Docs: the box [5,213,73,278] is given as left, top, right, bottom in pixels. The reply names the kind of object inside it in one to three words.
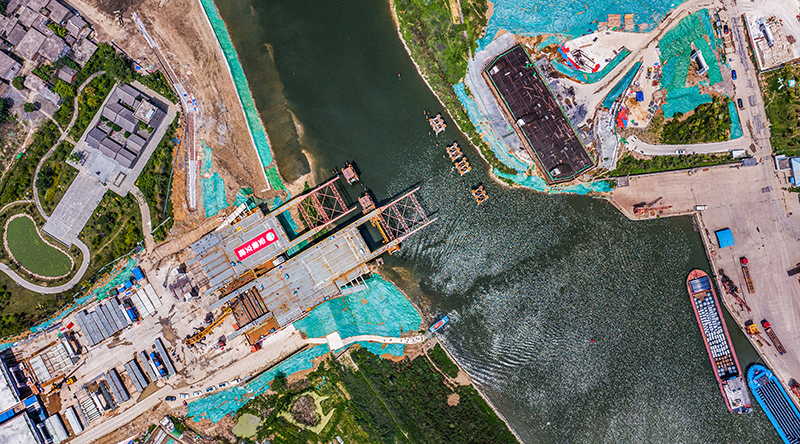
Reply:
pond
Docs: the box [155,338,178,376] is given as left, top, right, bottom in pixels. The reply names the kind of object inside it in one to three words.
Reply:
shed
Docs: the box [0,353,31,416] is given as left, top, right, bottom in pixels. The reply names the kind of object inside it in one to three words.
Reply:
building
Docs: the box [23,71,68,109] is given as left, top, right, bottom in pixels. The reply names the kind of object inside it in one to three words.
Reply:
house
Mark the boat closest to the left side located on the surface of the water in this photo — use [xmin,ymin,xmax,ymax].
[430,317,449,333]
